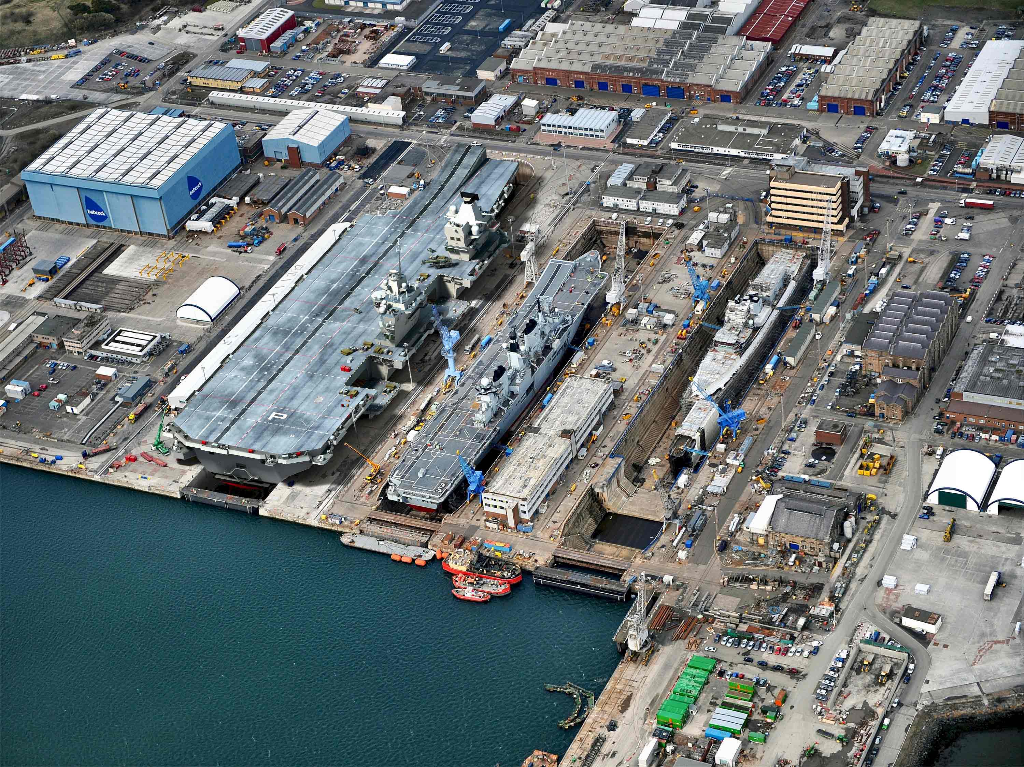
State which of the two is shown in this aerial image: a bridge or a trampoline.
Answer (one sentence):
The one in the frame is a bridge.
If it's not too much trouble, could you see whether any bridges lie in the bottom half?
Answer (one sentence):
Yes, there is a bridge in the bottom half.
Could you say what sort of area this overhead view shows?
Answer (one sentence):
This looks like a port.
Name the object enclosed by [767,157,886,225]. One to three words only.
building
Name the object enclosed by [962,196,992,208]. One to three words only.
vehicle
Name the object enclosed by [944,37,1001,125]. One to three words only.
shed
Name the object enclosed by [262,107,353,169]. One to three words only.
hangar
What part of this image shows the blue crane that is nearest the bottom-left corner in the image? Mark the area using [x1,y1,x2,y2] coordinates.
[456,450,484,508]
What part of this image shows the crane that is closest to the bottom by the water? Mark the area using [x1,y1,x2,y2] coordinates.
[620,570,649,670]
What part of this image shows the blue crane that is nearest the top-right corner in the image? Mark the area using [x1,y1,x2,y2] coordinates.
[684,252,710,309]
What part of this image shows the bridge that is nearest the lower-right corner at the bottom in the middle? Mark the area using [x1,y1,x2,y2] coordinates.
[548,542,646,586]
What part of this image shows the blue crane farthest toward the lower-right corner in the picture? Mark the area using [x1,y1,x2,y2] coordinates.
[689,377,740,443]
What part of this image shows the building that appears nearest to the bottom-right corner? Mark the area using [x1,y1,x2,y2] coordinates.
[902,604,941,629]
